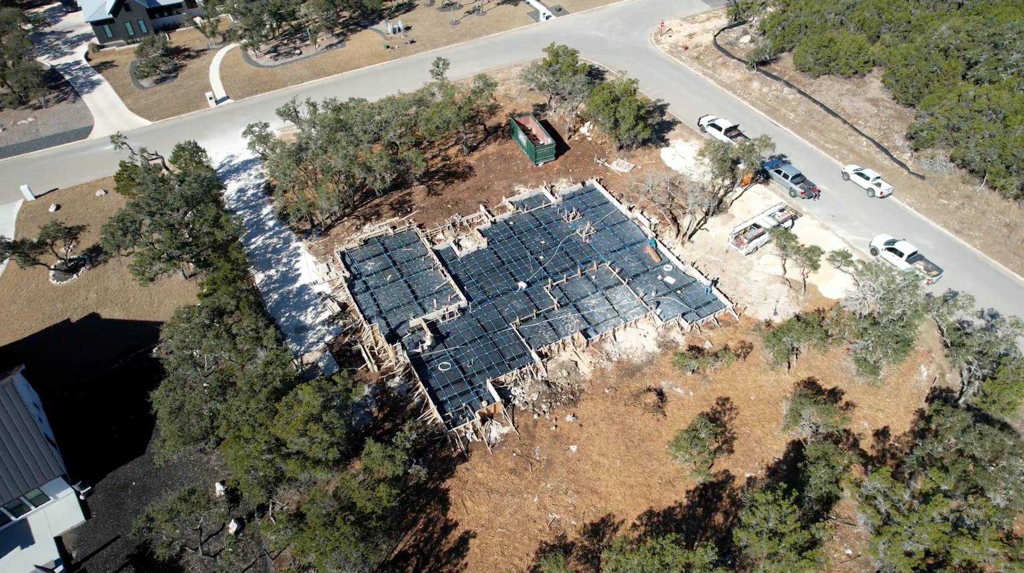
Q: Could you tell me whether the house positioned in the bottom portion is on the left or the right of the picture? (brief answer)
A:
left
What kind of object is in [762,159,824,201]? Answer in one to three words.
truck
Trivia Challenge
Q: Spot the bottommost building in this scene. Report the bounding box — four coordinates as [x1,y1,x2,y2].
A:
[0,368,88,573]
